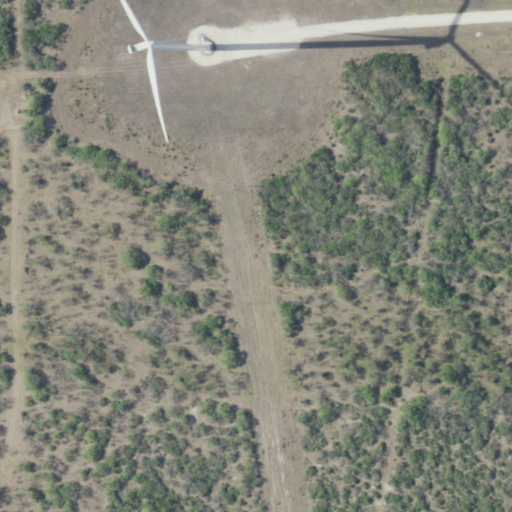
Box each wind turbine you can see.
[120,0,218,141]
